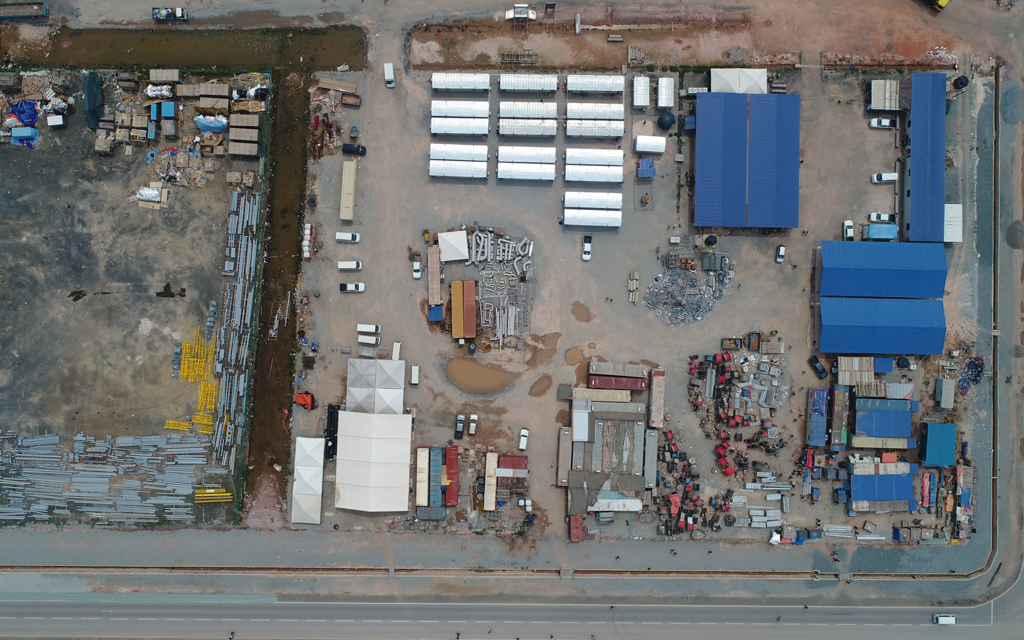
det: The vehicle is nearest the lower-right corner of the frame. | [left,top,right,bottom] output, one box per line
[929,612,958,624]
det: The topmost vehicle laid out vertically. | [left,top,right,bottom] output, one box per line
[384,63,396,91]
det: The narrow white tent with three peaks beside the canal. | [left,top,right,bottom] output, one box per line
[293,436,327,524]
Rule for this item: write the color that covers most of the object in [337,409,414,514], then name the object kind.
white tent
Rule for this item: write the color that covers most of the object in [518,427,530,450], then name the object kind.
white vehicle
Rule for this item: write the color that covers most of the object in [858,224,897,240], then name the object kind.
blue vehicle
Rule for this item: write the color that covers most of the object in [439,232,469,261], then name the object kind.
white tent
